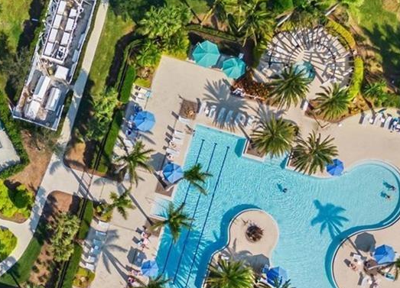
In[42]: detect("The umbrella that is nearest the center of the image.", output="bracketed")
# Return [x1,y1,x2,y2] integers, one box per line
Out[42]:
[162,164,181,183]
